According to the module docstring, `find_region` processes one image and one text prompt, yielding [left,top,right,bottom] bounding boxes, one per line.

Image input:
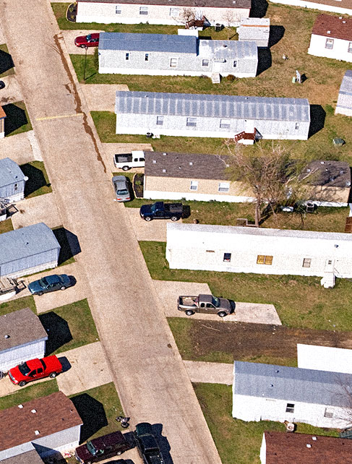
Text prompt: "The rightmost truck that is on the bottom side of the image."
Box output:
[178,295,231,317]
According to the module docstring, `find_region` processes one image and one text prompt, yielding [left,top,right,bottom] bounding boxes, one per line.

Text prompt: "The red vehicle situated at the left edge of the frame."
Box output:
[8,354,63,386]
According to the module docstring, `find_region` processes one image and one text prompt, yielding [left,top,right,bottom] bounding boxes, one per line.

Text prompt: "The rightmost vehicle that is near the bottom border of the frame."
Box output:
[135,426,169,464]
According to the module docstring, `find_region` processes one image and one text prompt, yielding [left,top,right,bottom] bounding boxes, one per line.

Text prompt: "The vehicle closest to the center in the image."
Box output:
[137,201,187,224]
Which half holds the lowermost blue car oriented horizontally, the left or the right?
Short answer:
left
